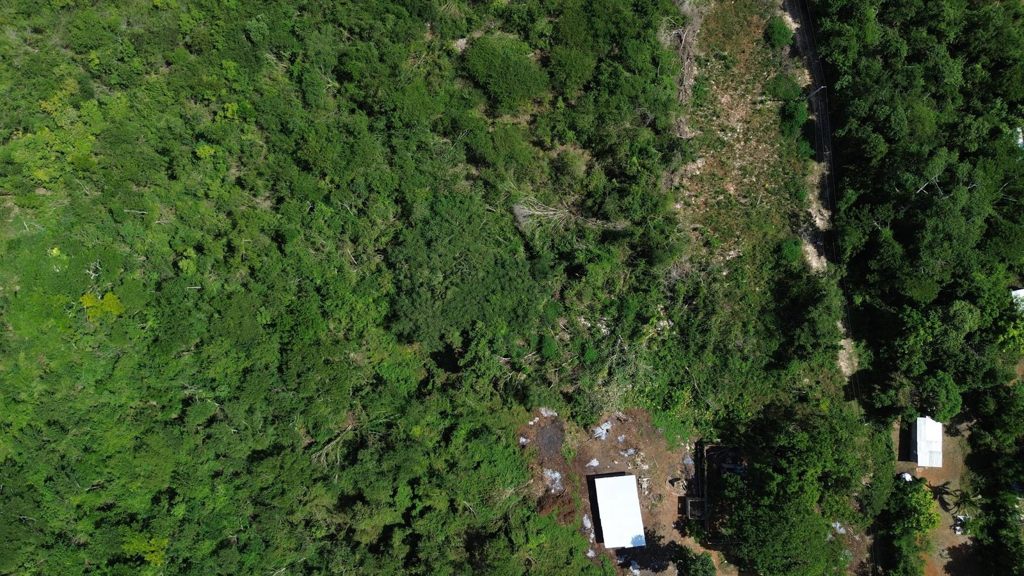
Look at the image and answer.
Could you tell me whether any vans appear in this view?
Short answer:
No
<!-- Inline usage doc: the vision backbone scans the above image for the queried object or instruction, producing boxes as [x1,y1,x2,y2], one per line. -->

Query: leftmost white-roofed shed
[596,473,646,548]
